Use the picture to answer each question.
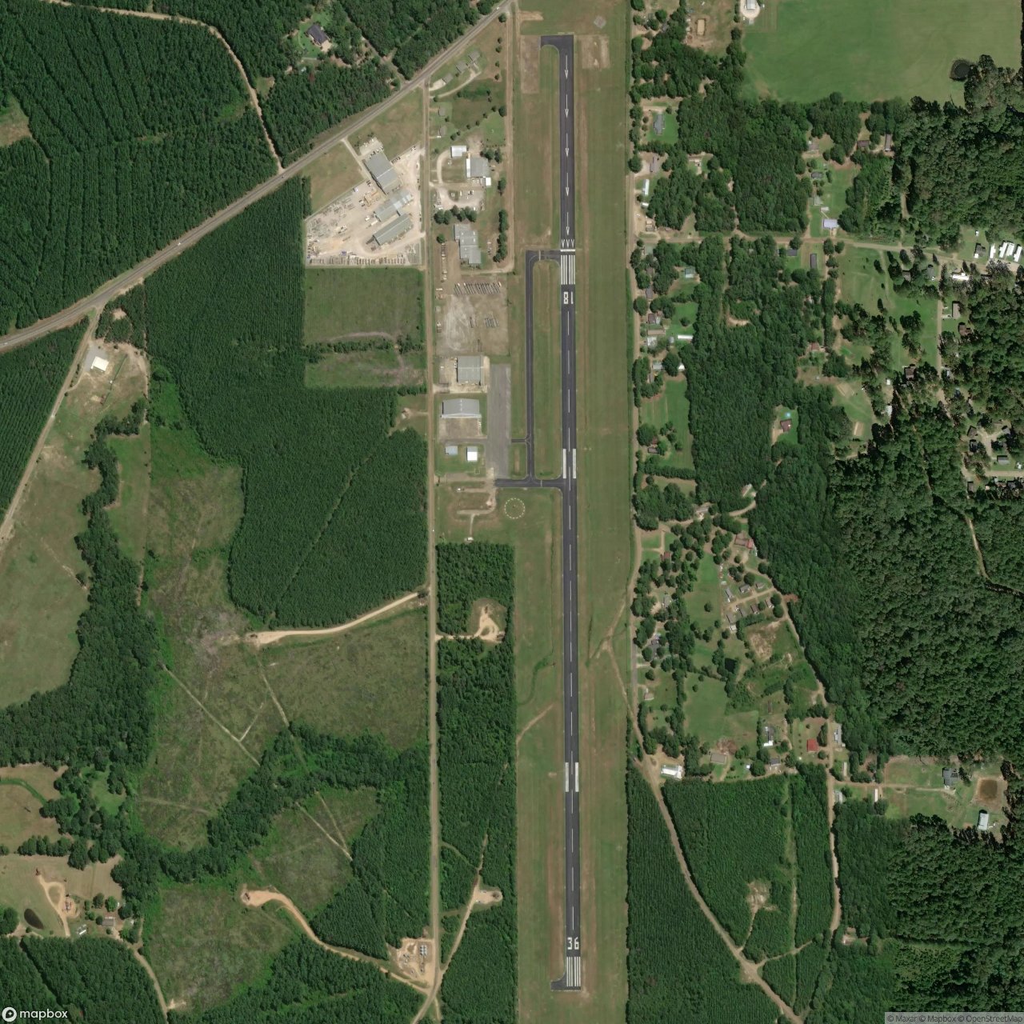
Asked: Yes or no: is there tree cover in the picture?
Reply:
Yes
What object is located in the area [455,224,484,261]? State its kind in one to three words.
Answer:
building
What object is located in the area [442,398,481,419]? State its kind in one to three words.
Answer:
hangar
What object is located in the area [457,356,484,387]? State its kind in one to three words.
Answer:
hangar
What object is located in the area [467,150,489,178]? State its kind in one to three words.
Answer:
building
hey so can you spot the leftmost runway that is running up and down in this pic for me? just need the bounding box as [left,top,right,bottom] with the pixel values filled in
[541,35,581,990]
